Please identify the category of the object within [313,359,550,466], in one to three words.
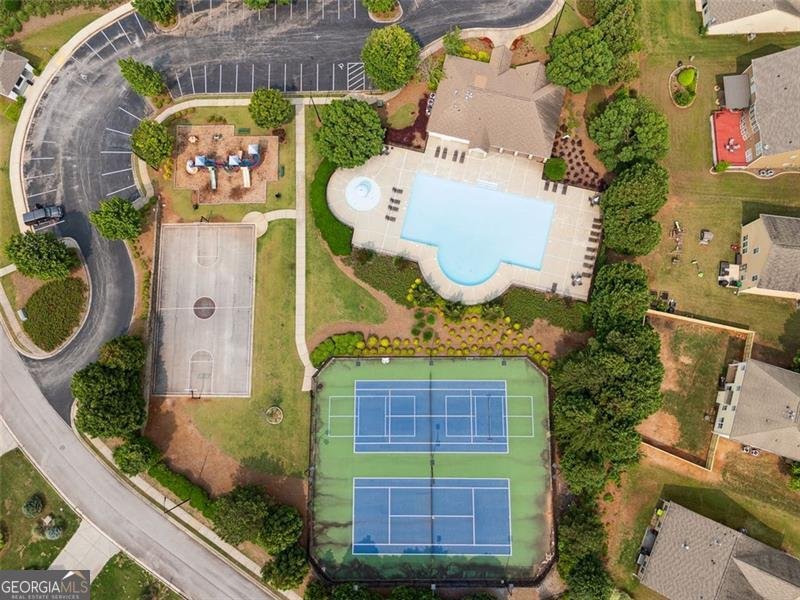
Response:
tennis court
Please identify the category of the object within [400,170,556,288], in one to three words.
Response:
swimming pool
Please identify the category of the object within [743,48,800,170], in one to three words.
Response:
house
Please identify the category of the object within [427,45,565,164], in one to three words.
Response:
building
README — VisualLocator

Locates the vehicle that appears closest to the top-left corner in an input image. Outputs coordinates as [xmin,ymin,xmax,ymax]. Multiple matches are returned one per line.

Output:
[24,206,63,225]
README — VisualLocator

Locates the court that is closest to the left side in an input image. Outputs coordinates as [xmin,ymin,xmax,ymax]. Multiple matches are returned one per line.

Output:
[152,223,255,397]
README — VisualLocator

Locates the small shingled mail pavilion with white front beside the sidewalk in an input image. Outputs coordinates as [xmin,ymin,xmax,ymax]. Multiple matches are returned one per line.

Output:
[0,49,37,102]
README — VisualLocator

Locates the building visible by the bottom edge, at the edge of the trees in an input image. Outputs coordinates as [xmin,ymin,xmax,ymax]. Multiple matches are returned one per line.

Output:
[638,499,800,600]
